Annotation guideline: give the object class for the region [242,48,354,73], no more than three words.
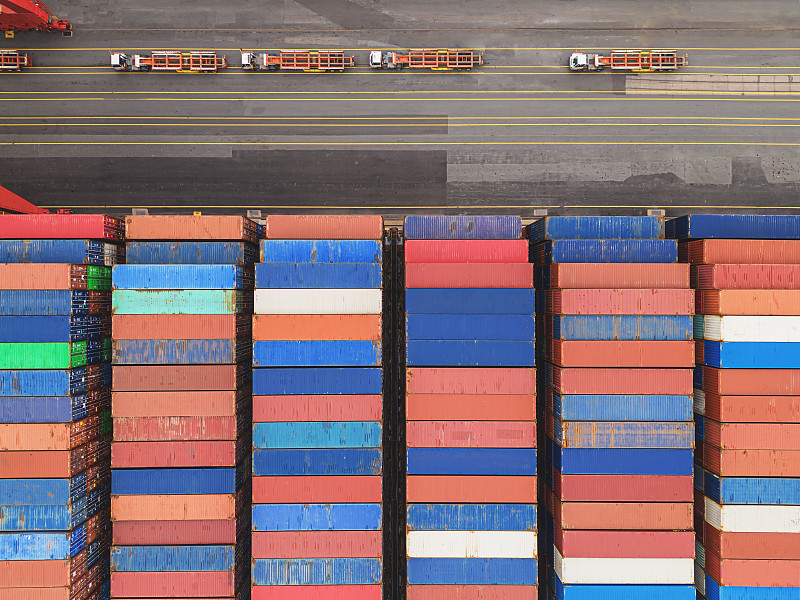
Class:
truck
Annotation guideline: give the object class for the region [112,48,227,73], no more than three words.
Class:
truck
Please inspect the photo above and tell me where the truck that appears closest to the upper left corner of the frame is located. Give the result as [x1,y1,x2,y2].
[0,51,30,73]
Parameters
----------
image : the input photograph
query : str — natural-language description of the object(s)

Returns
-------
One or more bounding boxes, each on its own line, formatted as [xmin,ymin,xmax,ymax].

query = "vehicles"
[112,48,227,73]
[242,48,354,73]
[573,48,685,73]
[0,51,30,73]
[371,47,482,71]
